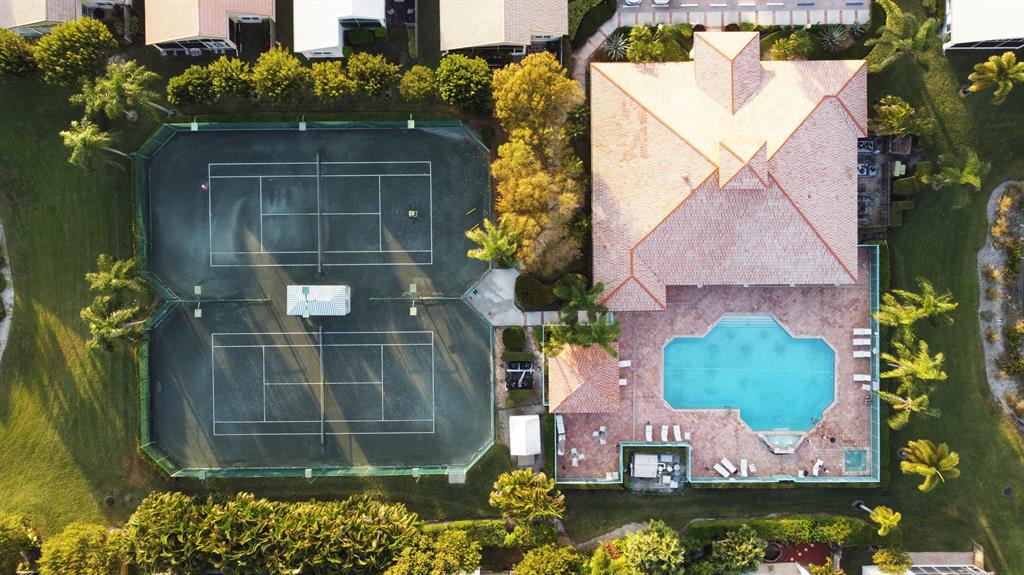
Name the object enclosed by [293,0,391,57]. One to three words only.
house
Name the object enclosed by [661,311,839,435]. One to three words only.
swimming pool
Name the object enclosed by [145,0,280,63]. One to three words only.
house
